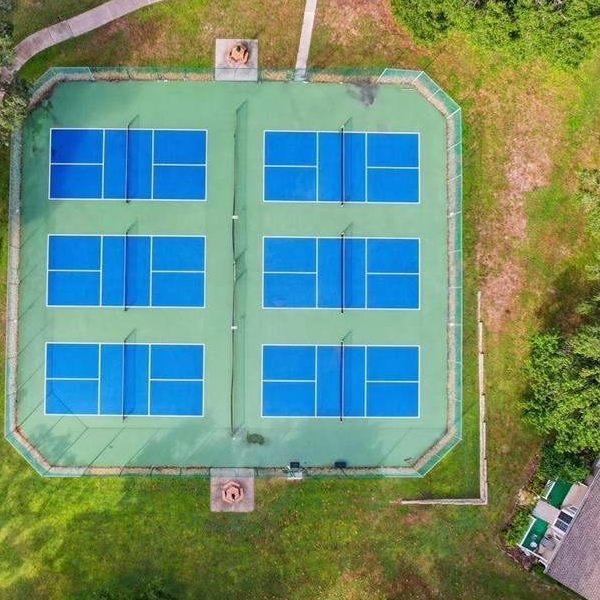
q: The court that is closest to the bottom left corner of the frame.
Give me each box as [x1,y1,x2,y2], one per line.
[46,338,204,423]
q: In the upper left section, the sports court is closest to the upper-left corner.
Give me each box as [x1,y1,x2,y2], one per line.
[49,121,207,206]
